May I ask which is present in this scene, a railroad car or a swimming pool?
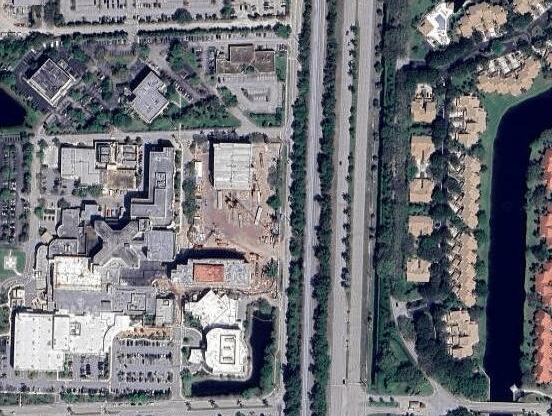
swimming pool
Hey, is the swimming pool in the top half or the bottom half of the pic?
top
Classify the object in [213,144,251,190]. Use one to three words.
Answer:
building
